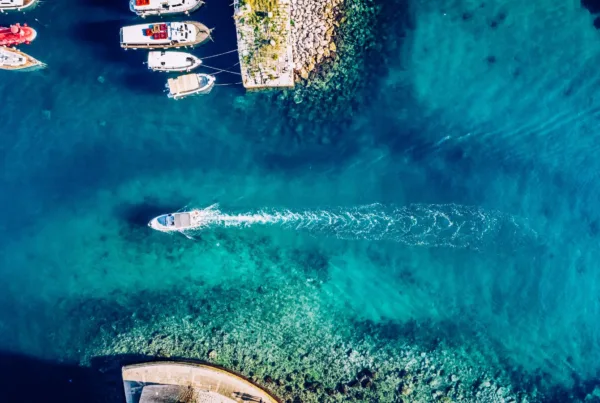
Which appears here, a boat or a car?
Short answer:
boat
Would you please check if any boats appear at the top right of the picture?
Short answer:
No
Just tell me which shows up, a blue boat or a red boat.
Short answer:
red boat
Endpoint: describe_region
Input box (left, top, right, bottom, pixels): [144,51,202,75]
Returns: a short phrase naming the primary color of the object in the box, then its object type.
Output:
white boat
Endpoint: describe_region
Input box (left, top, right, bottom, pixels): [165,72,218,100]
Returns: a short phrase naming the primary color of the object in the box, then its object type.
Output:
white boat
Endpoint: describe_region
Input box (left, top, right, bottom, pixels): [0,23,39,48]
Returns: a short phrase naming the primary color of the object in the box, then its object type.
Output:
red boat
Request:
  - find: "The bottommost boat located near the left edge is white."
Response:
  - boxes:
[0,47,47,74]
